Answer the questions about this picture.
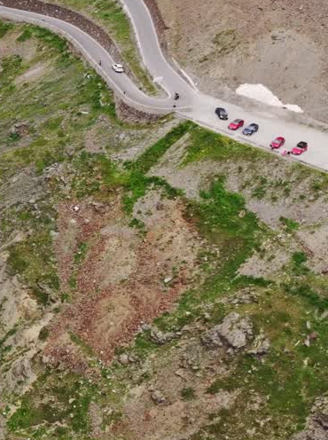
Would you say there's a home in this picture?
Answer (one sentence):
No, the picture doesn't show any home.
